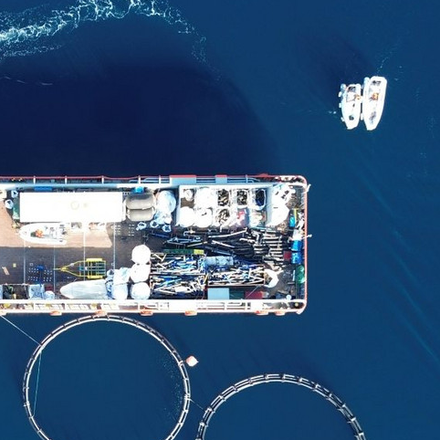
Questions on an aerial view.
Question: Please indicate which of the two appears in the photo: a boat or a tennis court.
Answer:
boat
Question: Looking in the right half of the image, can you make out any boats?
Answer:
Yes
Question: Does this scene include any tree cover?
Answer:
No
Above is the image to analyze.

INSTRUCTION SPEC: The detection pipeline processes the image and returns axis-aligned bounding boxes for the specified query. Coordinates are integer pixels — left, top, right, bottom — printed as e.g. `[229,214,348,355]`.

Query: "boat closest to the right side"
[362,72,389,131]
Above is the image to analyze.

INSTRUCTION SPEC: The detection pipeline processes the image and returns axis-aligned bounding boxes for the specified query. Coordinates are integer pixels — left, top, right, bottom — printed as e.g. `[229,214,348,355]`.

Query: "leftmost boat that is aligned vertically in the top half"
[338,80,364,130]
